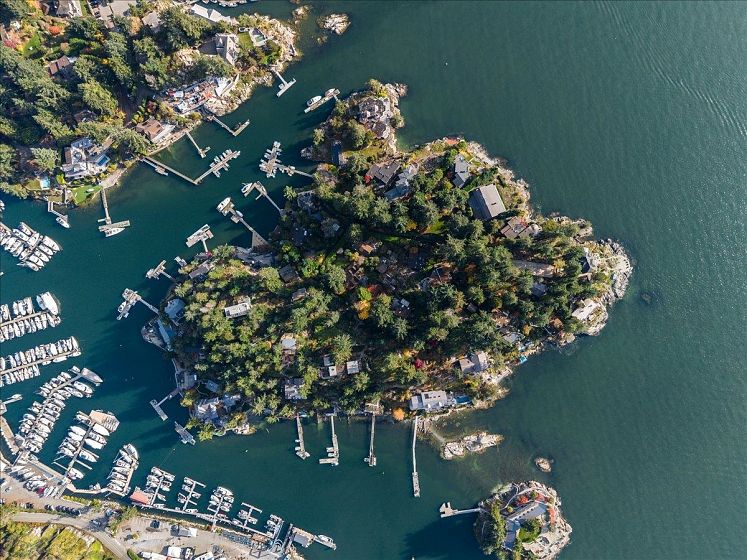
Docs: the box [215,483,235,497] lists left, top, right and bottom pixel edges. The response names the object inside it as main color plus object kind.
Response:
white boat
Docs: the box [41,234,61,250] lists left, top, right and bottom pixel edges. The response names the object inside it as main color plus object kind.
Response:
white boat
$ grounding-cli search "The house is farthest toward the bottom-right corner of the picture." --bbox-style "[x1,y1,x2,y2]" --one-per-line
[498,497,554,551]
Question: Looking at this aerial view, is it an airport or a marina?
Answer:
marina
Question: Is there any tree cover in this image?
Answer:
Yes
